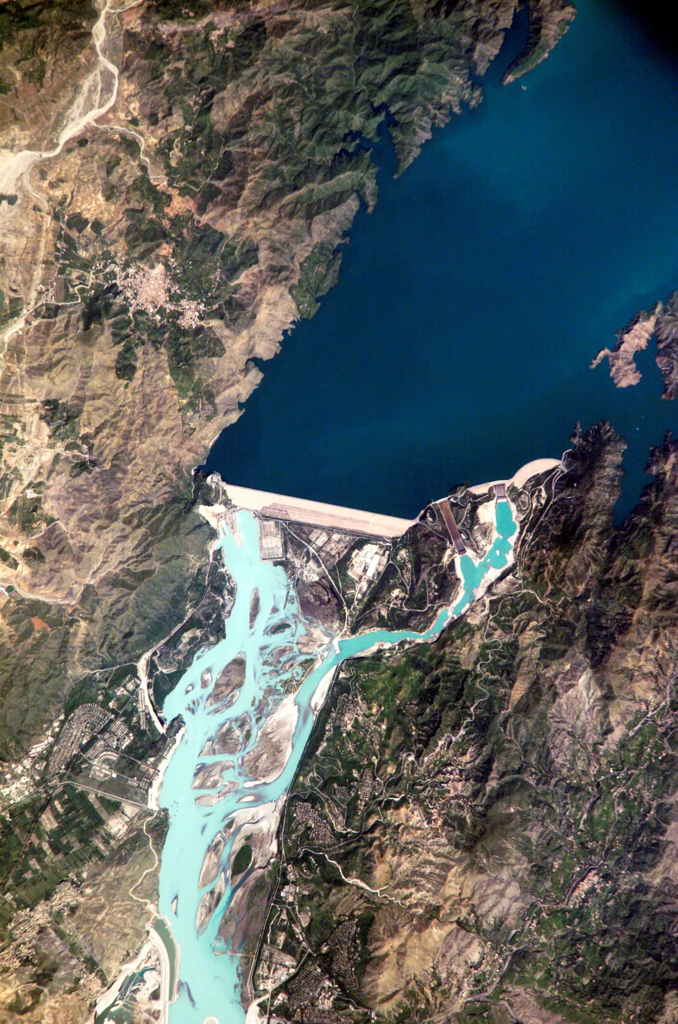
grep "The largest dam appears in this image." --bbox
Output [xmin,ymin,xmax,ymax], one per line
[224,481,417,539]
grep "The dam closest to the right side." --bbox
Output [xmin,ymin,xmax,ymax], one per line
[510,456,562,486]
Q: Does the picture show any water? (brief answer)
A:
Yes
